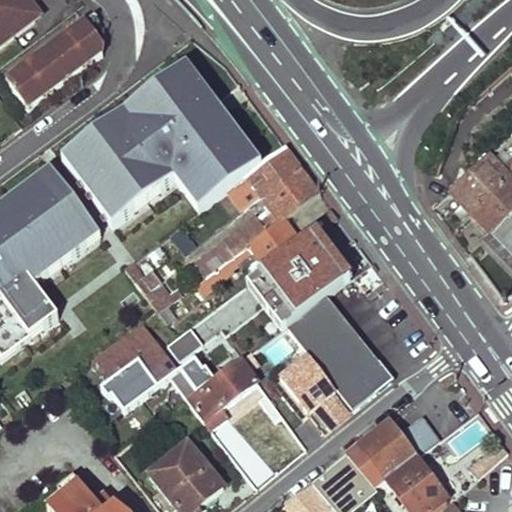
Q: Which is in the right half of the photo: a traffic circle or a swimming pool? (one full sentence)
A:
It is a swimming pool that can be seen in the right half of the photo.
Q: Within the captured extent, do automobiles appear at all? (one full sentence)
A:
Yes, an automobile appears in the view.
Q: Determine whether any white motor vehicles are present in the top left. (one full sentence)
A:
Yes, in the top left there is a white motor vehicle.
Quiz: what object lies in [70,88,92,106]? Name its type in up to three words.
car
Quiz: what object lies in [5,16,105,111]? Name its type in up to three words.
house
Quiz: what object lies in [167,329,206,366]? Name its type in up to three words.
shed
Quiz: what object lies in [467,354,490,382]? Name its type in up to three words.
vehicle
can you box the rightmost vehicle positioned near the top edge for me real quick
[258,26,278,48]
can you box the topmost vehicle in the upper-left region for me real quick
[86,8,102,26]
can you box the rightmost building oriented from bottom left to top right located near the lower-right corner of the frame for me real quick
[470,451,508,484]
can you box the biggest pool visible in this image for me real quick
[446,418,492,459]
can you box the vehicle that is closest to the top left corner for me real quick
[17,28,38,48]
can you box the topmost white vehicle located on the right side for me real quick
[310,116,328,138]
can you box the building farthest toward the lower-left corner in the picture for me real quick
[45,472,104,512]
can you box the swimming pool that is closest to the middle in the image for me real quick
[264,336,296,367]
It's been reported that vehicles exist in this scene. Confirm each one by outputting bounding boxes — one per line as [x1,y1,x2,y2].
[422,294,440,316]
[378,300,400,318]
[408,341,429,358]
[306,463,328,482]
[464,502,488,512]
[500,465,512,491]
[70,88,92,106]
[86,8,102,26]
[17,28,38,48]
[103,454,120,472]
[388,309,410,327]
[467,354,490,382]
[503,352,512,370]
[258,26,278,48]
[450,269,468,290]
[489,473,500,494]
[288,478,309,496]
[30,474,51,494]
[310,116,328,138]
[38,401,58,421]
[448,400,468,421]
[390,392,414,412]
[402,329,424,347]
